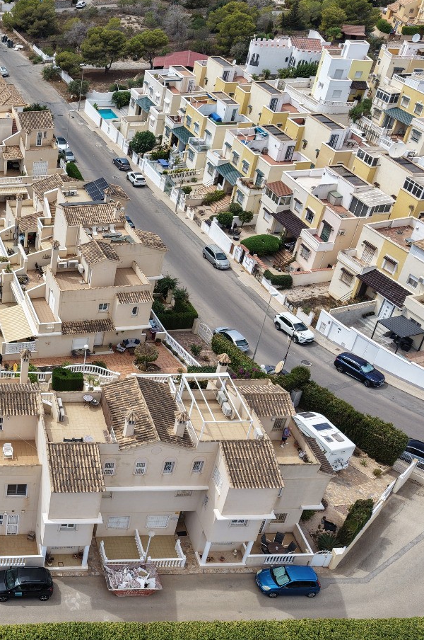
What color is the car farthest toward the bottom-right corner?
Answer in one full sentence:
The car farthest toward the bottom-right corner is blue.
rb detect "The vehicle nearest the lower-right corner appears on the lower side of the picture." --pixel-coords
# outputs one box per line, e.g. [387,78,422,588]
[258,567,328,601]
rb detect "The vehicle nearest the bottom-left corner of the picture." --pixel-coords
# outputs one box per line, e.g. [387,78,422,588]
[0,568,56,606]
